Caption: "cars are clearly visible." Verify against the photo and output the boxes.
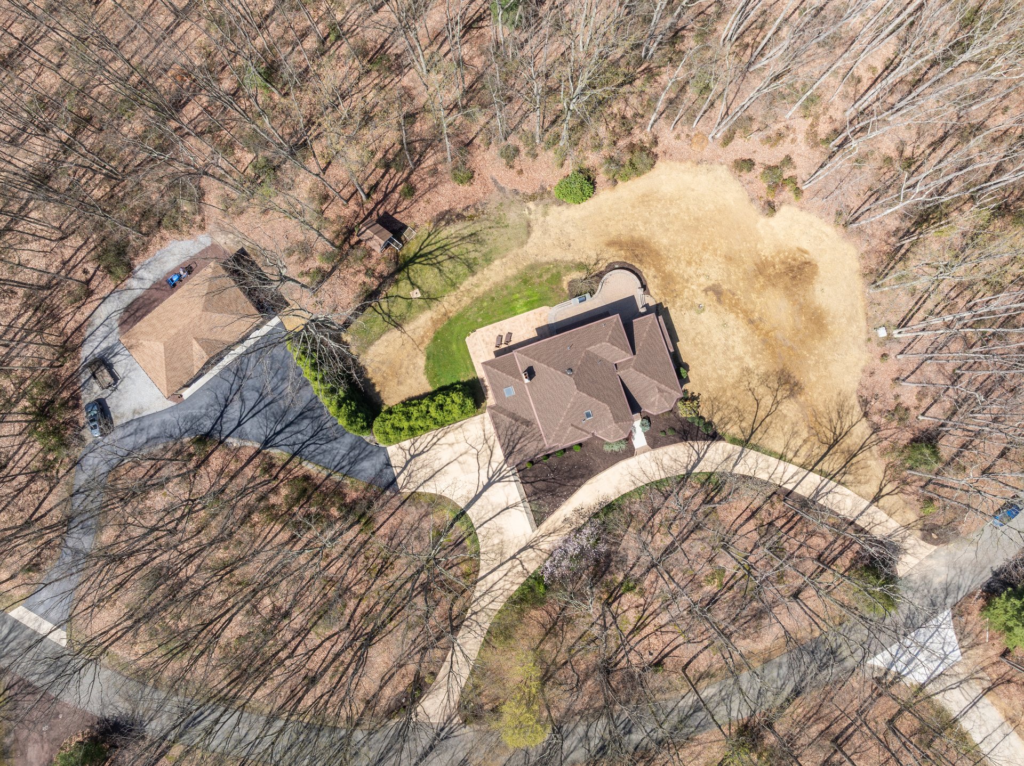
[84,401,110,440]
[990,502,1024,531]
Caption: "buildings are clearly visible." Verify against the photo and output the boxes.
[480,311,684,469]
[119,261,267,399]
[358,219,404,256]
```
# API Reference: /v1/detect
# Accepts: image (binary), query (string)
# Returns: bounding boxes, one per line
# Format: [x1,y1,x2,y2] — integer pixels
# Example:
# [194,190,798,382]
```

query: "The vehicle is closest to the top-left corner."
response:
[171,261,200,286]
